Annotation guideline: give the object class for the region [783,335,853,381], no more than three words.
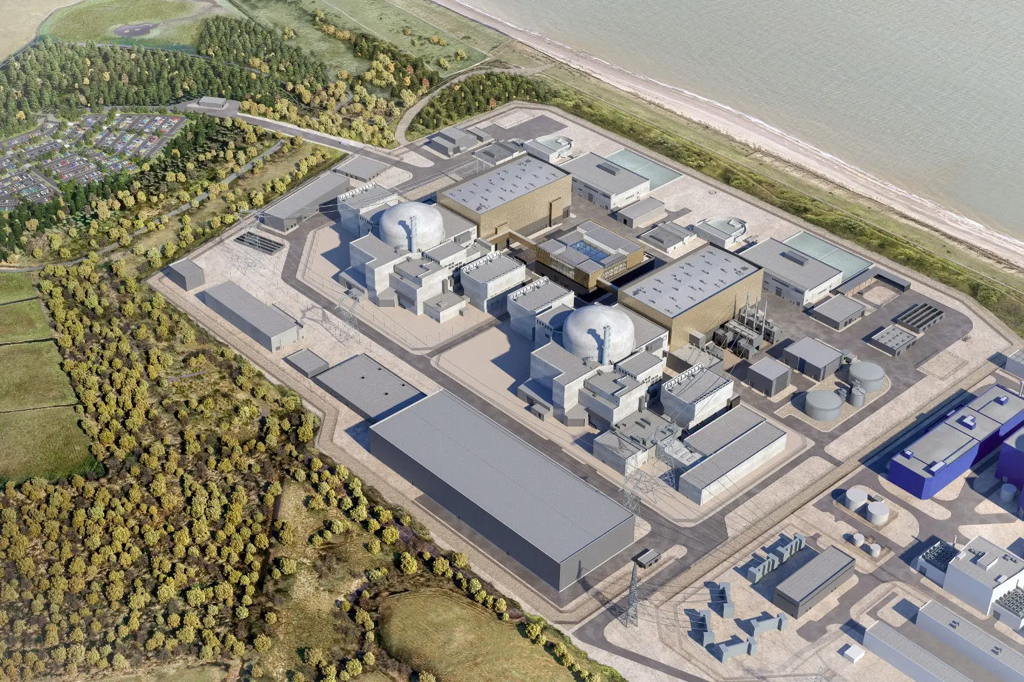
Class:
building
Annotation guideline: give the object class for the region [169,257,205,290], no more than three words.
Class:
shed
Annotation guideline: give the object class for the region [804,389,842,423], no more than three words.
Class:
storage tank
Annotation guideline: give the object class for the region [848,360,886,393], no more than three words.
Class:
storage tank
